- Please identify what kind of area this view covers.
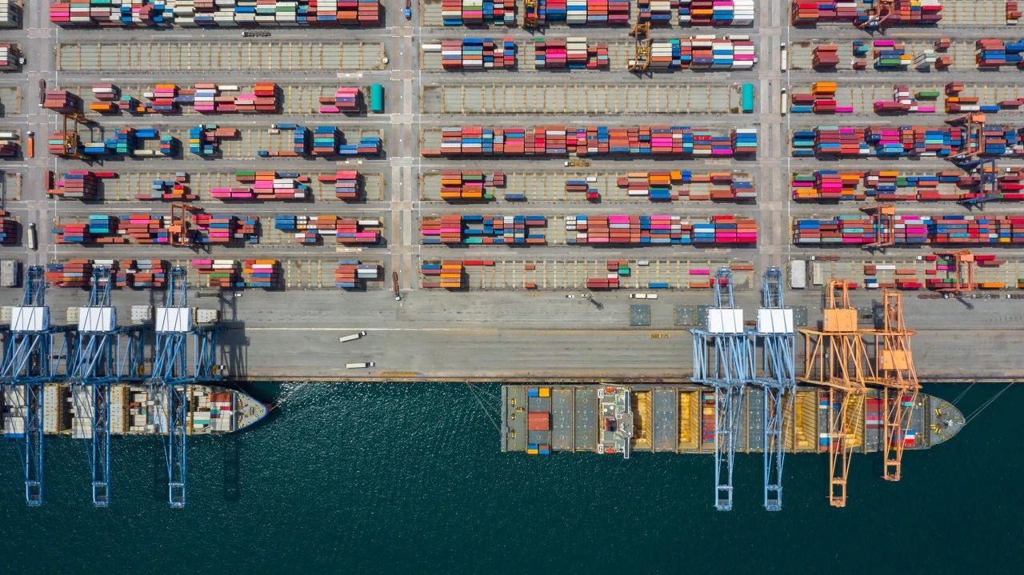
port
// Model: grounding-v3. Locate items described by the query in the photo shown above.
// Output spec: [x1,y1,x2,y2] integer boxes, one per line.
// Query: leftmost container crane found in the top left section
[62,114,99,161]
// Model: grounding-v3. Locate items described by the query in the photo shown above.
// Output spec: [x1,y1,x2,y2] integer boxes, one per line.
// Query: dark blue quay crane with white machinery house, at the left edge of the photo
[0,265,107,506]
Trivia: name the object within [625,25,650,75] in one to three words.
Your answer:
container crane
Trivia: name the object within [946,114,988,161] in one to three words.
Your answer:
container crane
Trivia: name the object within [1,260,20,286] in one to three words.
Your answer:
shed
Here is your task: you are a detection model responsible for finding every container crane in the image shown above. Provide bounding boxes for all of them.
[733,266,799,510]
[0,265,107,506]
[62,114,99,161]
[958,160,995,205]
[65,265,166,506]
[167,205,203,248]
[859,205,896,248]
[625,25,650,75]
[790,278,867,507]
[848,289,921,481]
[858,0,893,32]
[678,266,748,510]
[517,0,542,32]
[935,250,976,293]
[946,114,988,161]
[145,265,236,506]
